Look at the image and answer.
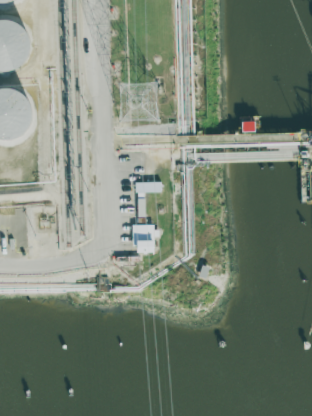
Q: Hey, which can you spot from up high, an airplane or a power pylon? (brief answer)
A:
power pylon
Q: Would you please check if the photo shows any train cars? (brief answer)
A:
No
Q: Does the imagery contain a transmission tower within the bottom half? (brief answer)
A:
No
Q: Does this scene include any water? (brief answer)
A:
Yes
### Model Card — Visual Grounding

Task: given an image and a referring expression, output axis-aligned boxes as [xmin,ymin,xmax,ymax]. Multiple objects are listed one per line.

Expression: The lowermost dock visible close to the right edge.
[224,148,300,162]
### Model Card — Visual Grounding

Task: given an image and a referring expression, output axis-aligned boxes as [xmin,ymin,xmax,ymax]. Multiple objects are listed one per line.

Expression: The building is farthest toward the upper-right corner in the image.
[240,114,261,132]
